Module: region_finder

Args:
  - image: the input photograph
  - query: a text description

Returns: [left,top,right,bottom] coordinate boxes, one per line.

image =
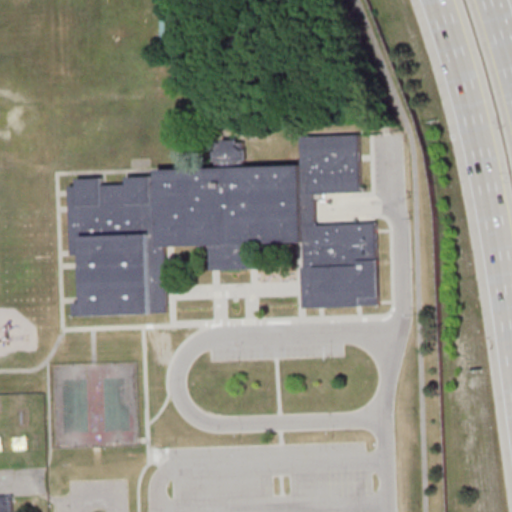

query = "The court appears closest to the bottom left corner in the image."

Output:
[54,363,137,448]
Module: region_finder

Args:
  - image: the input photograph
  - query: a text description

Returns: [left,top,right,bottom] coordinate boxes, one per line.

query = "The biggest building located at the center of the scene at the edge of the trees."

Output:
[66,134,380,316]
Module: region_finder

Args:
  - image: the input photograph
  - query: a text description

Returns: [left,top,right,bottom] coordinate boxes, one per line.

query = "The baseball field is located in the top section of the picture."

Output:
[0,89,27,140]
